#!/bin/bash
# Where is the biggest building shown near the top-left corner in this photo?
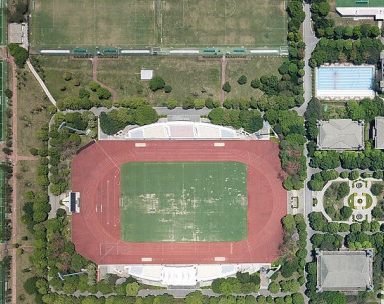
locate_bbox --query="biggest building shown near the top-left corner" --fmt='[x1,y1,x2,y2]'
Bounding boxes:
[9,23,30,47]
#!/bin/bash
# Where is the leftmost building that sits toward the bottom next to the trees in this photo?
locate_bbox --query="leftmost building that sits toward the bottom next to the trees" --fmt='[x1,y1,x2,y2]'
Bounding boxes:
[63,192,83,213]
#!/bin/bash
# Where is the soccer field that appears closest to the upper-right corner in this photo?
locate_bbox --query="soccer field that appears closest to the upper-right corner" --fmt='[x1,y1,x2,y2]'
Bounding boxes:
[156,0,288,48]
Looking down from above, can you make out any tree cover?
Yes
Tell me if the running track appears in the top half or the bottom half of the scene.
bottom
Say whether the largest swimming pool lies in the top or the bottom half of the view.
top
